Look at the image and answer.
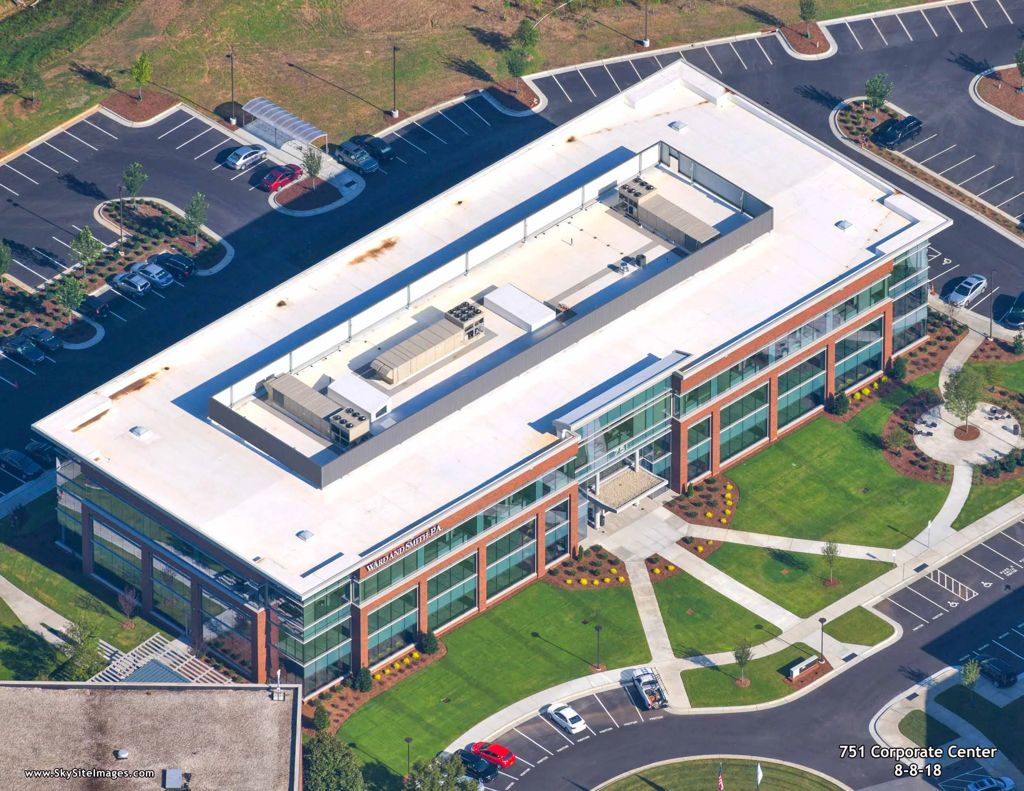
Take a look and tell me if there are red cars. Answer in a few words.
Yes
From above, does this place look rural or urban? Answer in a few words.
urban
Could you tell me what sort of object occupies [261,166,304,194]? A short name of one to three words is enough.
car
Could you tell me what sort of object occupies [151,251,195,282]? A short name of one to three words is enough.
car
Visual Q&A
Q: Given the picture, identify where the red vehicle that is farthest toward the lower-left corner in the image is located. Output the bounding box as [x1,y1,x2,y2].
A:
[472,742,516,771]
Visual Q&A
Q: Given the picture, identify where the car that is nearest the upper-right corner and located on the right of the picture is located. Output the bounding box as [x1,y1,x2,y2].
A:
[879,116,923,150]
